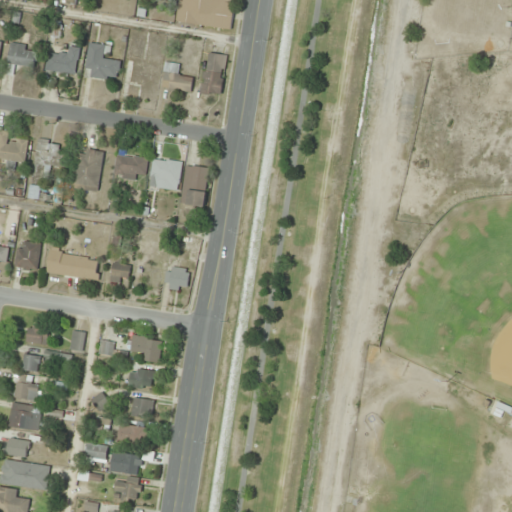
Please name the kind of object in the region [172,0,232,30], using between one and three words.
building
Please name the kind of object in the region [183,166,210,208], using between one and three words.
house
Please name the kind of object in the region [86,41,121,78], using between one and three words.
house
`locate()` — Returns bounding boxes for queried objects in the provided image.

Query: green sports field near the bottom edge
[361,399,479,512]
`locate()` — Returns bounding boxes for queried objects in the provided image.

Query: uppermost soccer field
[432,0,512,47]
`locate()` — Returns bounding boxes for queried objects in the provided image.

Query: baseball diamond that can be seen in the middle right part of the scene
[382,195,512,403]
